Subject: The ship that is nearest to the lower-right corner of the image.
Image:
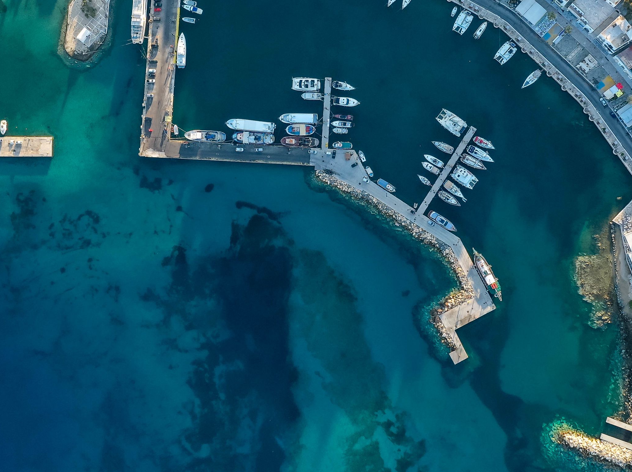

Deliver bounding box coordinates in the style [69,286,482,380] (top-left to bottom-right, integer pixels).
[473,250,503,300]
